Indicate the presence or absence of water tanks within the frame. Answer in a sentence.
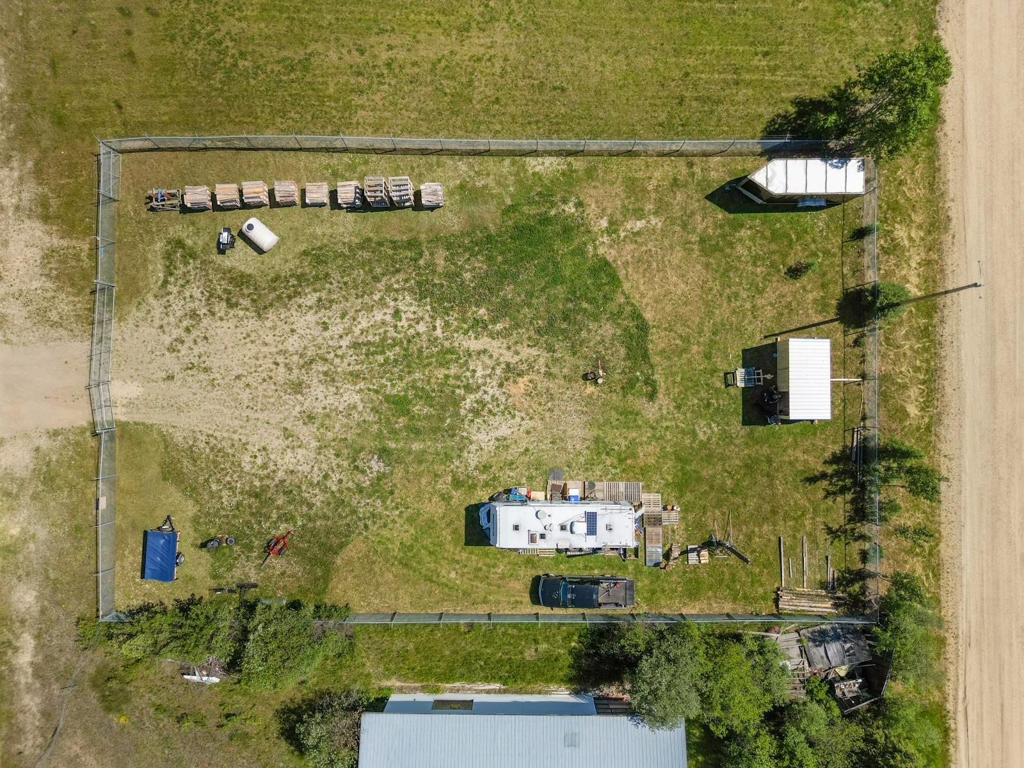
Yes, a water tank appears in the view.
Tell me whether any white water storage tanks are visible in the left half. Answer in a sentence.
Yes, a white water storage tank is visible in the left half.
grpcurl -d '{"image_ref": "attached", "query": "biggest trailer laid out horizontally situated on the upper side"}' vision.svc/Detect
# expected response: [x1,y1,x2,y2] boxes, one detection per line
[722,158,865,208]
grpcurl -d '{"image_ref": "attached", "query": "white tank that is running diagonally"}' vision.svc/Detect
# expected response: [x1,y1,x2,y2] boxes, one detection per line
[242,218,279,252]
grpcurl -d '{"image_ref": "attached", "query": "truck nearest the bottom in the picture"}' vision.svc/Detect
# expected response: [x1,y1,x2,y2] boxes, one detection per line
[537,573,634,612]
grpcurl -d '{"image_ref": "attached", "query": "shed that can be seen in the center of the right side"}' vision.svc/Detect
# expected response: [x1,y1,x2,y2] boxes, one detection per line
[773,336,832,421]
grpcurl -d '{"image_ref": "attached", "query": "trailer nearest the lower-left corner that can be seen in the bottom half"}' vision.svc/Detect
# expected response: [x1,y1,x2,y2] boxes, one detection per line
[144,514,184,582]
